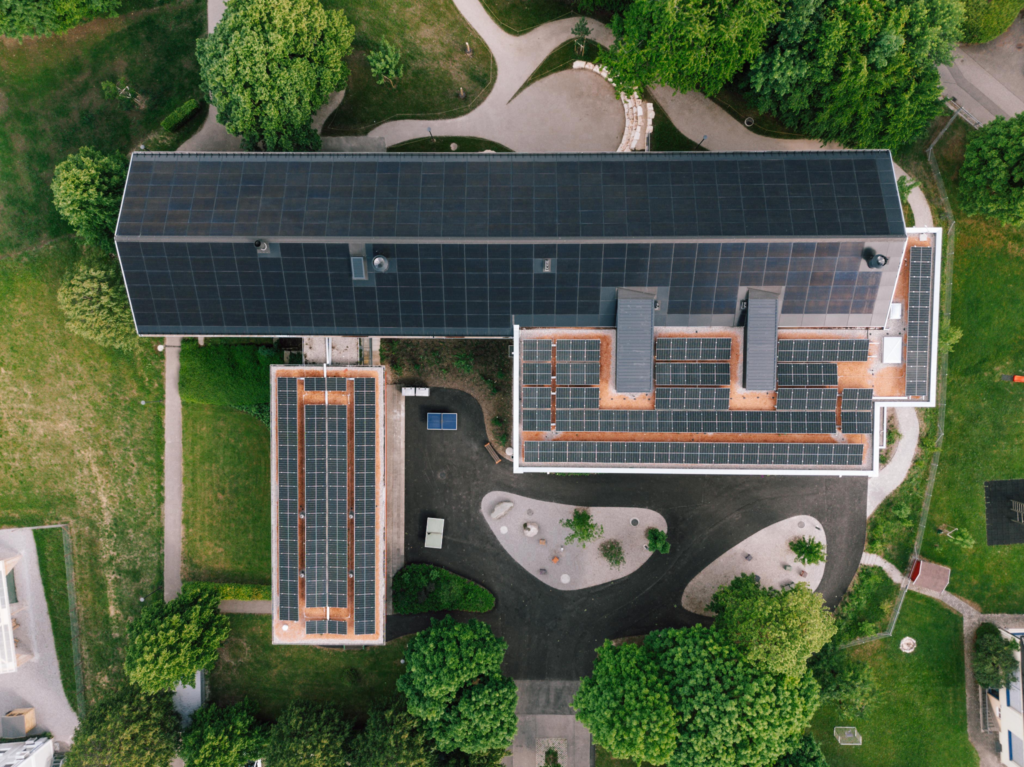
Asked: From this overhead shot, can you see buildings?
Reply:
Yes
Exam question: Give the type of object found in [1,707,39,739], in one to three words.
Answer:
shed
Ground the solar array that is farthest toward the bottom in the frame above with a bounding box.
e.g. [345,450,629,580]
[306,620,347,636]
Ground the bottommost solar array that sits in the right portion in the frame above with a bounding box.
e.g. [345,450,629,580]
[524,442,864,464]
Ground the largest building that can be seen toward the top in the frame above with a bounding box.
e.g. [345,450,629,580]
[114,151,908,393]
